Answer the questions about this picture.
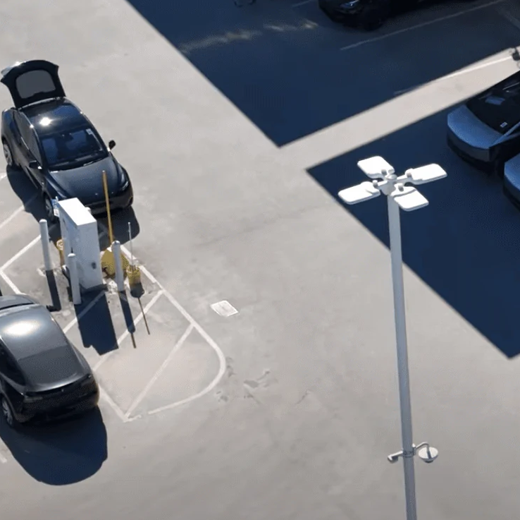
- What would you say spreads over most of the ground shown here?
paved ground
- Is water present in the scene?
No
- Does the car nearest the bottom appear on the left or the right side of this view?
left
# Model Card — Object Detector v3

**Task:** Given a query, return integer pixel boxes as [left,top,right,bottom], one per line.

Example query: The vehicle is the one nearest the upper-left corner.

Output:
[0,50,131,218]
